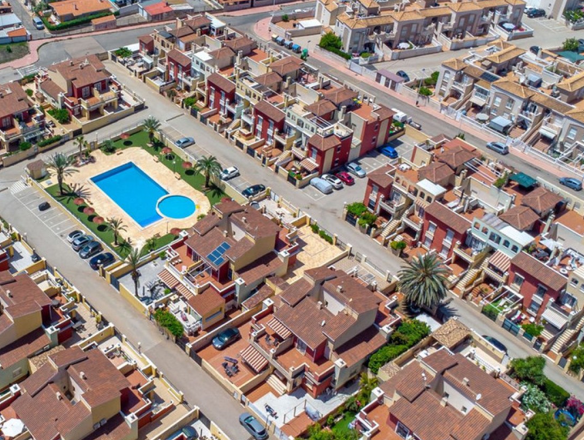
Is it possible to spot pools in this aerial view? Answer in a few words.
Yes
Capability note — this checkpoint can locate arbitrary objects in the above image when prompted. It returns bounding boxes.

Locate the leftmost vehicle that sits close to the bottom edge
[167,425,202,440]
